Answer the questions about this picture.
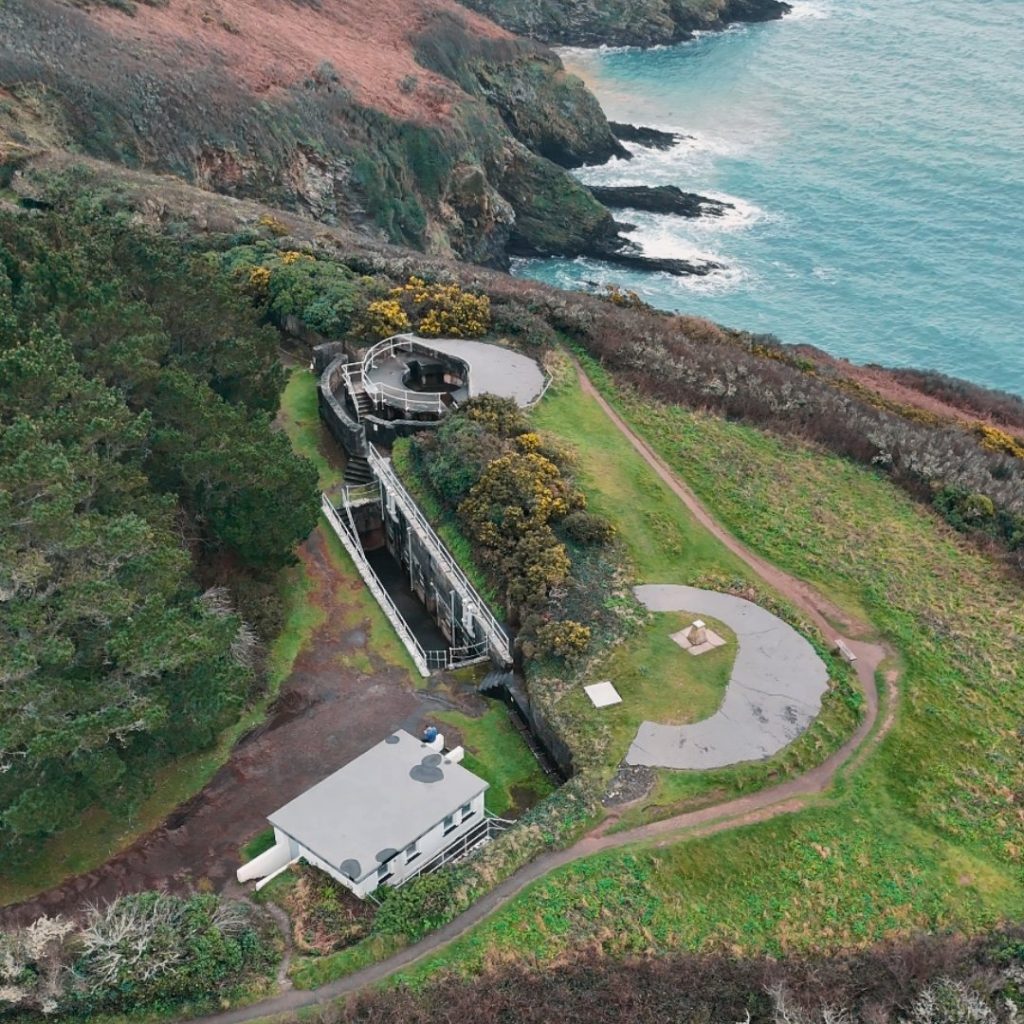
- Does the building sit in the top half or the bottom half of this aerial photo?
bottom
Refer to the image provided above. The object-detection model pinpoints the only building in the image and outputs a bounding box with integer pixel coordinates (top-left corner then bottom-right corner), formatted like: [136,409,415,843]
[238,729,486,908]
